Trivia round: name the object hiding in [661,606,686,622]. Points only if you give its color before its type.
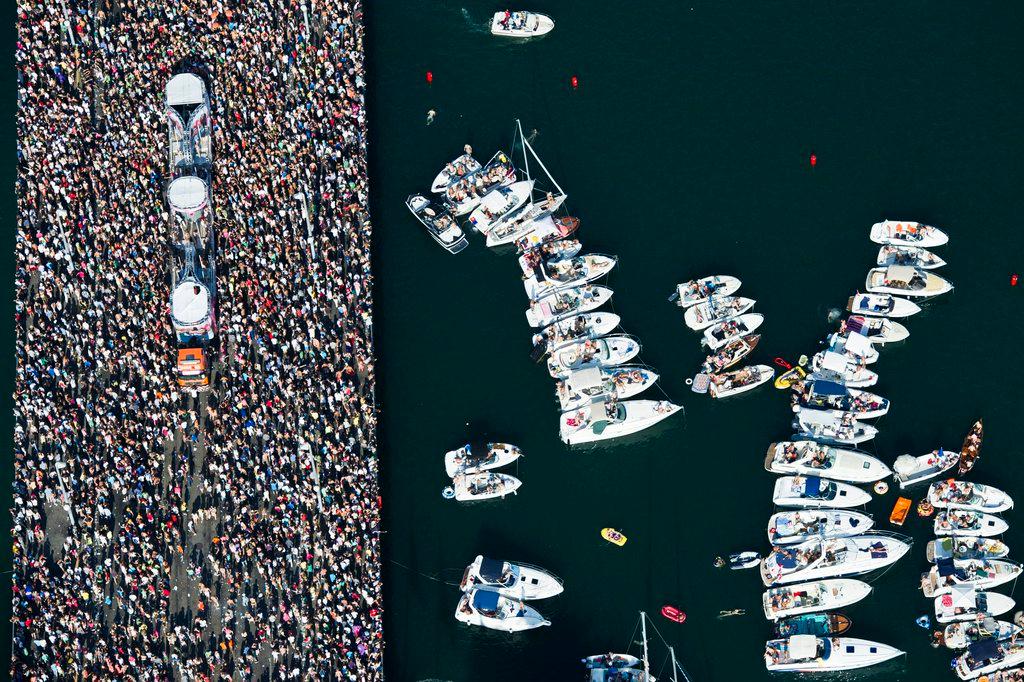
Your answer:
red boat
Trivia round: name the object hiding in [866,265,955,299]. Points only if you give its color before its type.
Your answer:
white boat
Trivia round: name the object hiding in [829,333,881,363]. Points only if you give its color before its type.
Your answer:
white boat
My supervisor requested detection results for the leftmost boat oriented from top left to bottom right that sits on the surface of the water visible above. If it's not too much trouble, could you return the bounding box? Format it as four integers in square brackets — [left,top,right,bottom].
[406,192,463,248]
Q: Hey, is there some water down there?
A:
Yes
